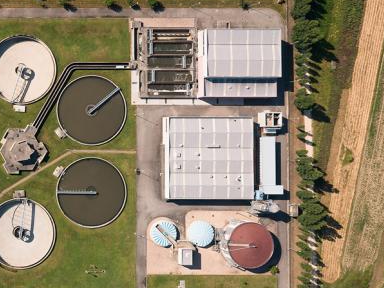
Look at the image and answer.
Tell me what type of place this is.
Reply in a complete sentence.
This image shows an industrial area.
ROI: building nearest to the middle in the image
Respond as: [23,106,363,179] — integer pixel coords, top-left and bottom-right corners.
[160,117,254,199]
